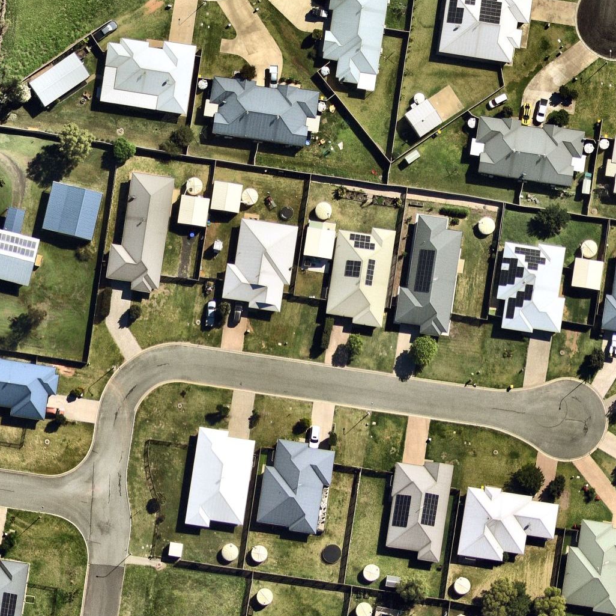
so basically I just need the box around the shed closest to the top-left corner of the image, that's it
[28,53,89,107]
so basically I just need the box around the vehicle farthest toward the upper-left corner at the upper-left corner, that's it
[92,20,118,39]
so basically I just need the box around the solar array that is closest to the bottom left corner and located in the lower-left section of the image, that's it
[0,593,16,616]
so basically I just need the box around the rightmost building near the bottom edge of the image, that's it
[563,519,616,615]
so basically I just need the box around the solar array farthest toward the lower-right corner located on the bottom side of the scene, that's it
[421,494,438,526]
